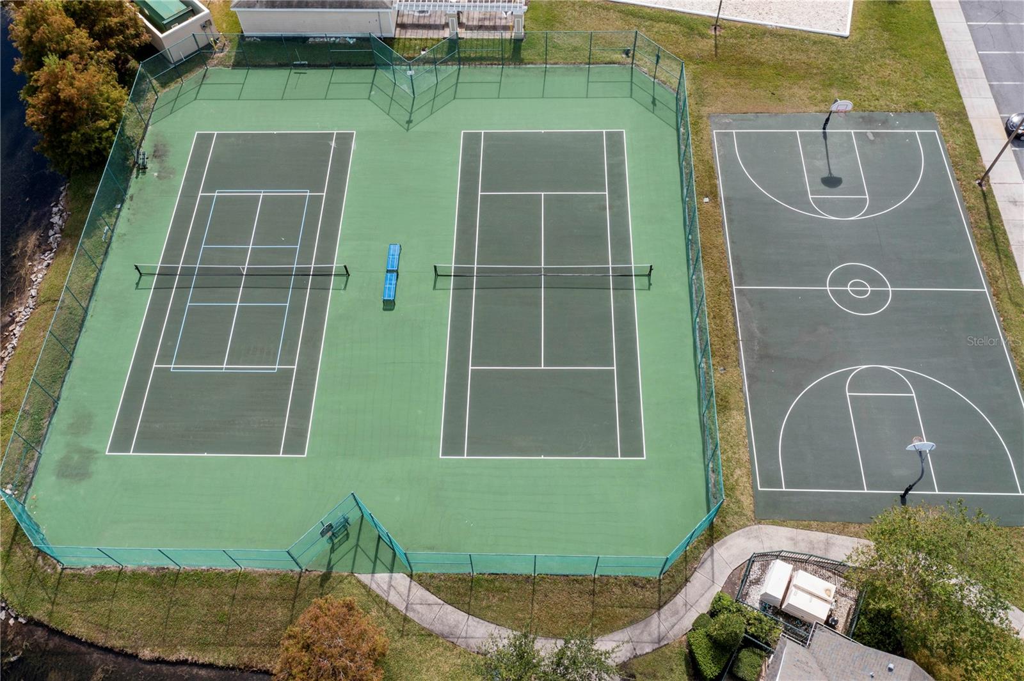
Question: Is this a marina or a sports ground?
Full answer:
This image shows a sports ground.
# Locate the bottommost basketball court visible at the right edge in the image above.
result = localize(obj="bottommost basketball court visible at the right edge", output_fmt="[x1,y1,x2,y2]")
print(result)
[710,113,1024,523]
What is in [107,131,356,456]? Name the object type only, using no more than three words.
tennis court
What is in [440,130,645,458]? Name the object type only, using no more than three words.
tennis court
